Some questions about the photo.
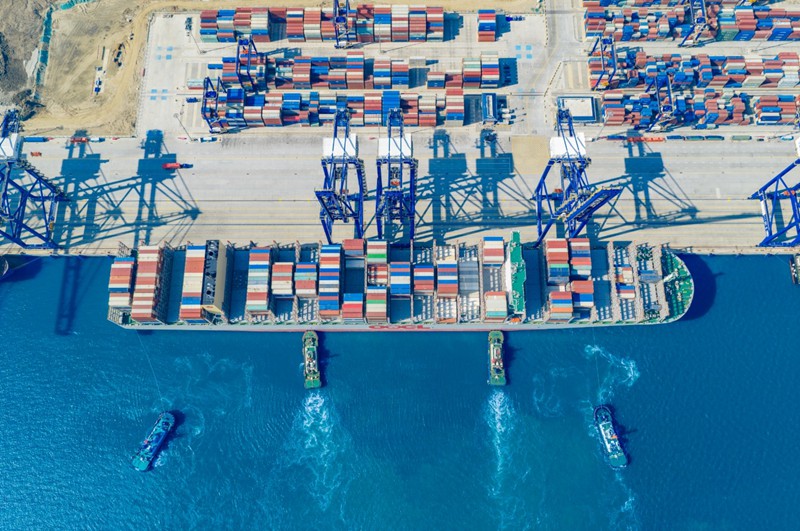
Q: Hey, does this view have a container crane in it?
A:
Yes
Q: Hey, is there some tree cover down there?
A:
No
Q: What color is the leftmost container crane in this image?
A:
blue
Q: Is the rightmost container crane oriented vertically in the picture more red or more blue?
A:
blue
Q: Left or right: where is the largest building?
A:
right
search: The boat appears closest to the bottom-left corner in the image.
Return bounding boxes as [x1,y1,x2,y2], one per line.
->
[134,412,176,472]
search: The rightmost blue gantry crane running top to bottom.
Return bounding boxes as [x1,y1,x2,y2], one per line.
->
[747,108,800,247]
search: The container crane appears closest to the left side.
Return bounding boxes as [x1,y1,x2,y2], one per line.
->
[0,108,70,247]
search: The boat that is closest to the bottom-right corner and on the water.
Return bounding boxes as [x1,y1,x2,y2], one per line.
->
[594,405,625,469]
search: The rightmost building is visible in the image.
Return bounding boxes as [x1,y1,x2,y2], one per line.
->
[556,98,598,127]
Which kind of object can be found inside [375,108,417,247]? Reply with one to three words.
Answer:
container crane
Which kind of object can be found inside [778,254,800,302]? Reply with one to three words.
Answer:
ship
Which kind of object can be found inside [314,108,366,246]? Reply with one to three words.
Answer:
container crane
